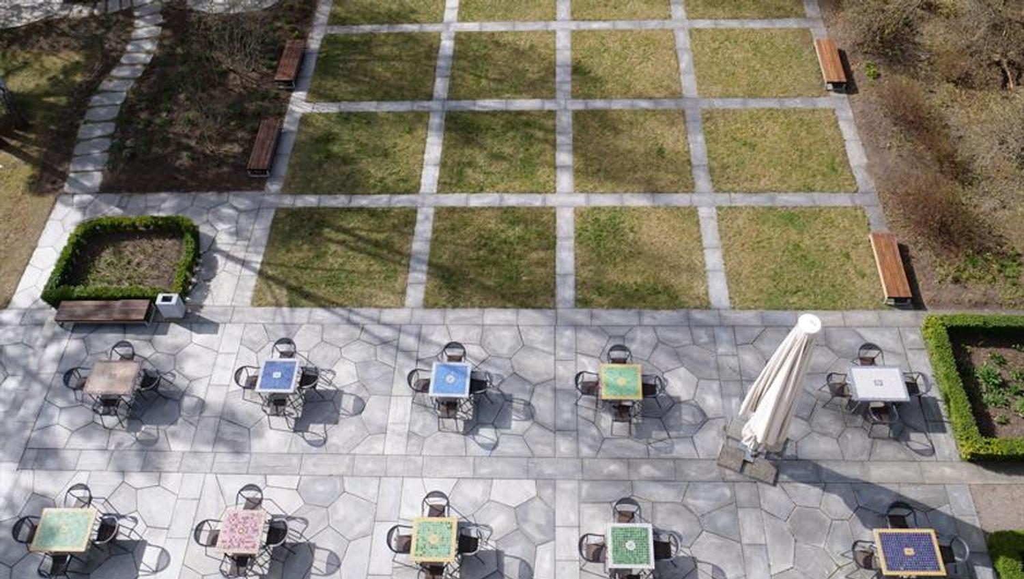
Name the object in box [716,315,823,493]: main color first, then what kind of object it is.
white umbrella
